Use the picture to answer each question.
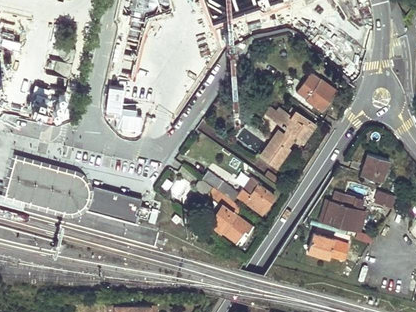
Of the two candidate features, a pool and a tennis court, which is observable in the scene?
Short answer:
pool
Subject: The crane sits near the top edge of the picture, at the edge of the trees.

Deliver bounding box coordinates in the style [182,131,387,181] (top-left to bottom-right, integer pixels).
[225,0,239,120]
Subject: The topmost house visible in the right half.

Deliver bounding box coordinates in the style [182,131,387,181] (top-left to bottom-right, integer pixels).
[297,74,337,113]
